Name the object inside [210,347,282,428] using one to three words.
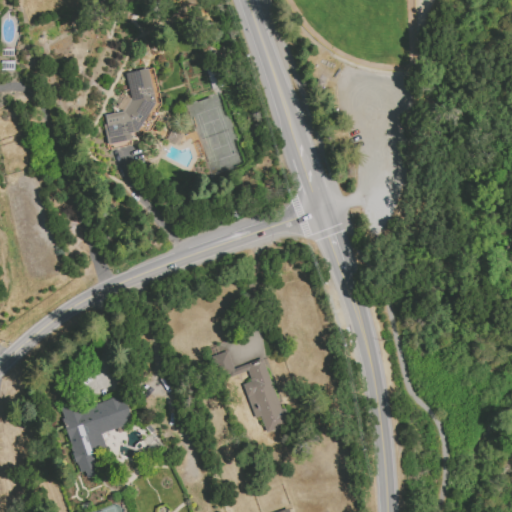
house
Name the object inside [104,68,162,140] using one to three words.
house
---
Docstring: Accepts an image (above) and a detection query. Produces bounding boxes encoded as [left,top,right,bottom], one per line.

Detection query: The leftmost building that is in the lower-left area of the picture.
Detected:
[61,400,128,478]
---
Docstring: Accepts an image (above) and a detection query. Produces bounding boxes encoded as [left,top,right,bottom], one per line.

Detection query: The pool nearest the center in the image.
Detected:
[146,140,197,170]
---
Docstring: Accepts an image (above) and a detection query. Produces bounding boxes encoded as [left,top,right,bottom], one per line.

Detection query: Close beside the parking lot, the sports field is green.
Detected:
[288,0,416,71]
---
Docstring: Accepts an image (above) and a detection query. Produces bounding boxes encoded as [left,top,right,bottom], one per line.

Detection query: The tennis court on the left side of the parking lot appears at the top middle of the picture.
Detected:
[187,94,242,174]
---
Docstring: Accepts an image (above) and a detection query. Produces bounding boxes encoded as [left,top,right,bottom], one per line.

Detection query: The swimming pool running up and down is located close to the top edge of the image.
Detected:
[2,13,18,48]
